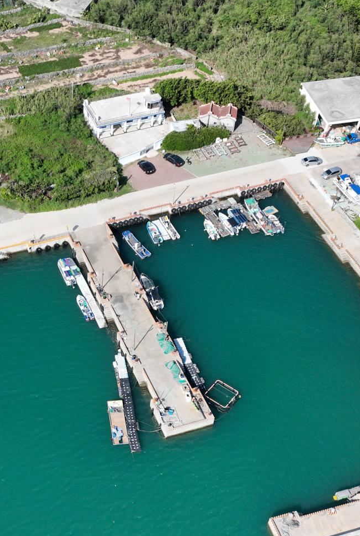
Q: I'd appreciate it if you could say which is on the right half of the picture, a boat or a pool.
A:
boat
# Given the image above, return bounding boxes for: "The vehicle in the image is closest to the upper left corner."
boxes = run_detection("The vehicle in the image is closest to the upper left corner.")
[136,157,156,173]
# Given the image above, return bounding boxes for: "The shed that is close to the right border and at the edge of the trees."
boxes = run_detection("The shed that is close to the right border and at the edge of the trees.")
[299,76,360,137]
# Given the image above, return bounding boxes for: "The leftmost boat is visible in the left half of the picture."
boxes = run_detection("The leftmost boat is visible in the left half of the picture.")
[54,251,80,286]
